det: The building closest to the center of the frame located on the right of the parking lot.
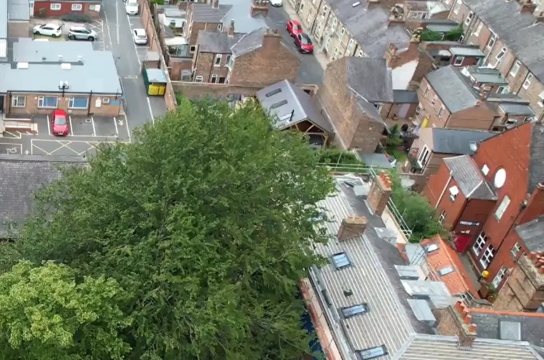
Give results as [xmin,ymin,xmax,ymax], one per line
[254,77,339,161]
